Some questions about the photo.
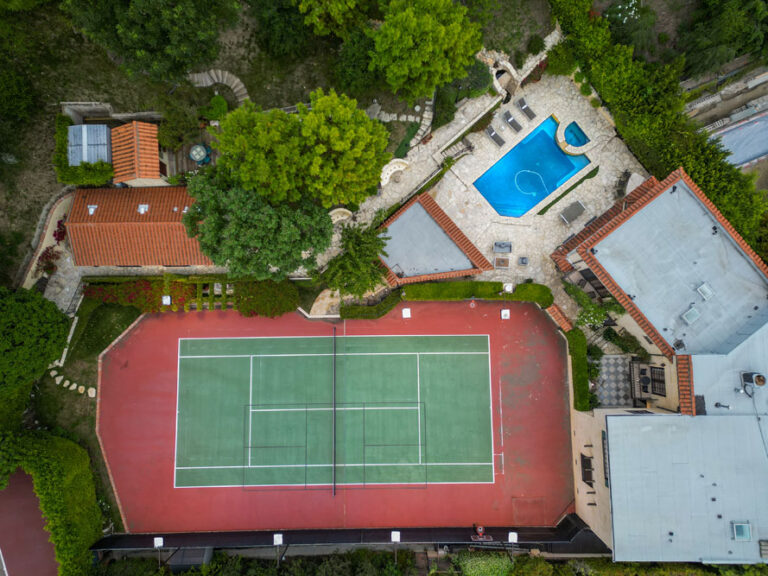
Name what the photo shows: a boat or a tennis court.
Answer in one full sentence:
There is a tennis court in the scene.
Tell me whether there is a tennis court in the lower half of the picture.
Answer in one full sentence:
Yes, you'll find a tennis court in the lower half of the picture.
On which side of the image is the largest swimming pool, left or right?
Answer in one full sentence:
The largest swimming pool is on the right side of the image.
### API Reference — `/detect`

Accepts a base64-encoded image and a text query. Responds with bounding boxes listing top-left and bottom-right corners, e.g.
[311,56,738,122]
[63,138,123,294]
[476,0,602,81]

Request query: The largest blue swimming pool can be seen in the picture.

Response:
[470,111,596,224]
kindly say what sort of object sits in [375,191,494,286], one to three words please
building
